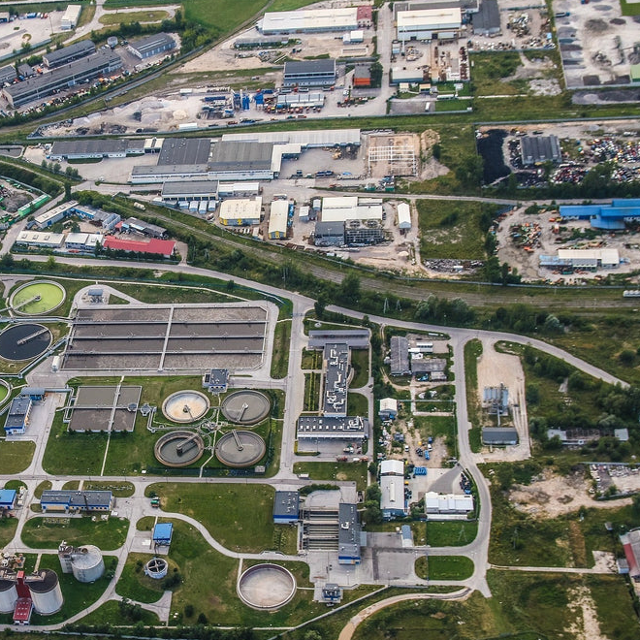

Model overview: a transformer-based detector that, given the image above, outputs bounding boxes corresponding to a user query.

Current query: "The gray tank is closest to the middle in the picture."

[221,390,271,425]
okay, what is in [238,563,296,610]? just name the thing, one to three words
storage tank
